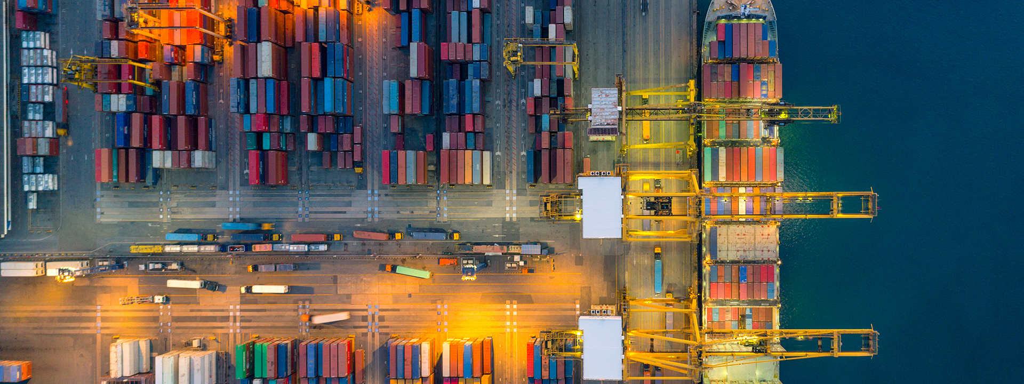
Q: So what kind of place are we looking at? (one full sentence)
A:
It's a port.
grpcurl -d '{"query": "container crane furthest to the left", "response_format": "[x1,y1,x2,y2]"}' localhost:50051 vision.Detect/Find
[61,53,159,95]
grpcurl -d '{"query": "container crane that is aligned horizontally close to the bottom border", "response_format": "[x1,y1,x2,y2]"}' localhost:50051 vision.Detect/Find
[540,277,880,384]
